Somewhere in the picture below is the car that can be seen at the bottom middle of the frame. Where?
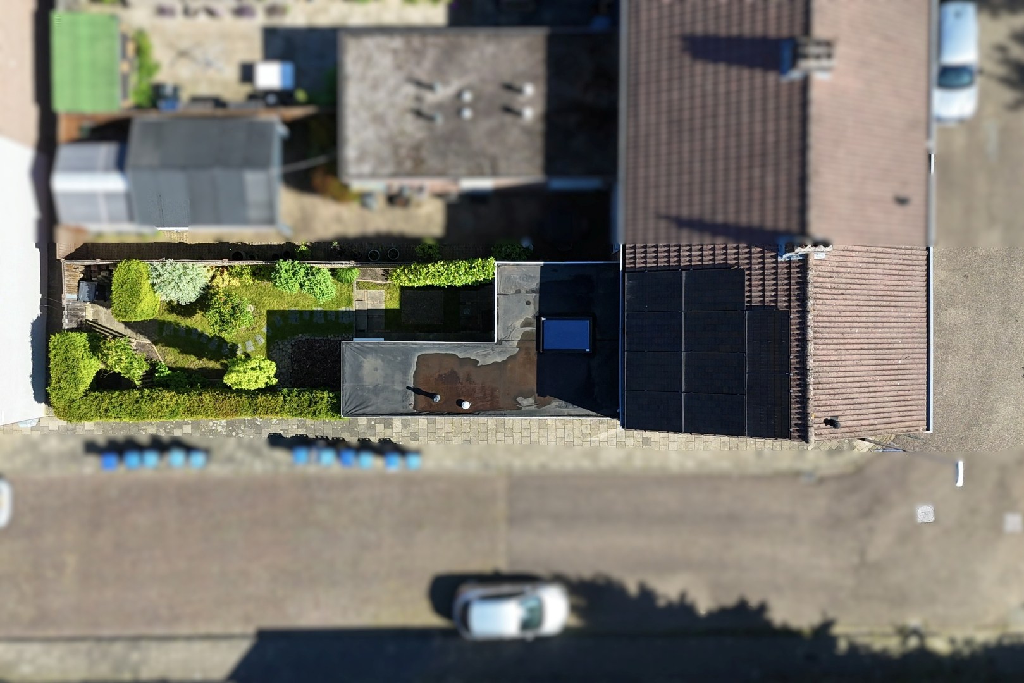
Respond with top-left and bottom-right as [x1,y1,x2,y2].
[454,579,570,642]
